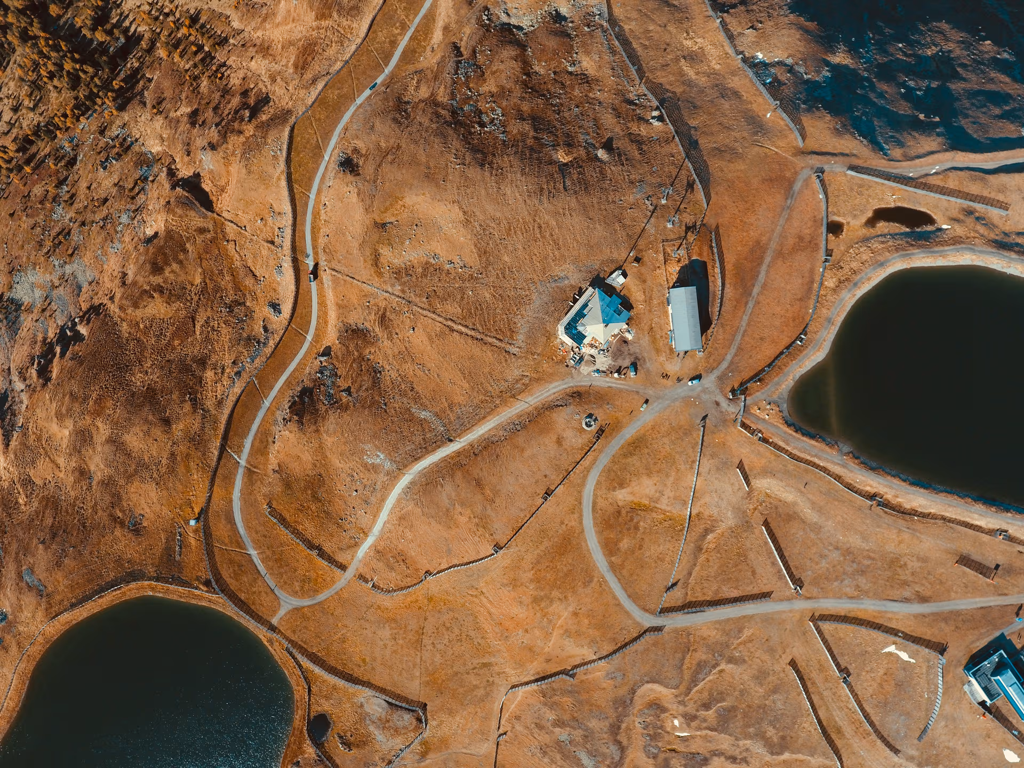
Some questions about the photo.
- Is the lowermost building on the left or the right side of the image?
right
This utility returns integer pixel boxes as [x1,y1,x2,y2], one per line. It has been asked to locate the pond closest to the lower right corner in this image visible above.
[787,266,1024,512]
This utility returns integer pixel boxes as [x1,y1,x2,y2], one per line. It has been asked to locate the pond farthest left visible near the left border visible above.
[0,594,294,768]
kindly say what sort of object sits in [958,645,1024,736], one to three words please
building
